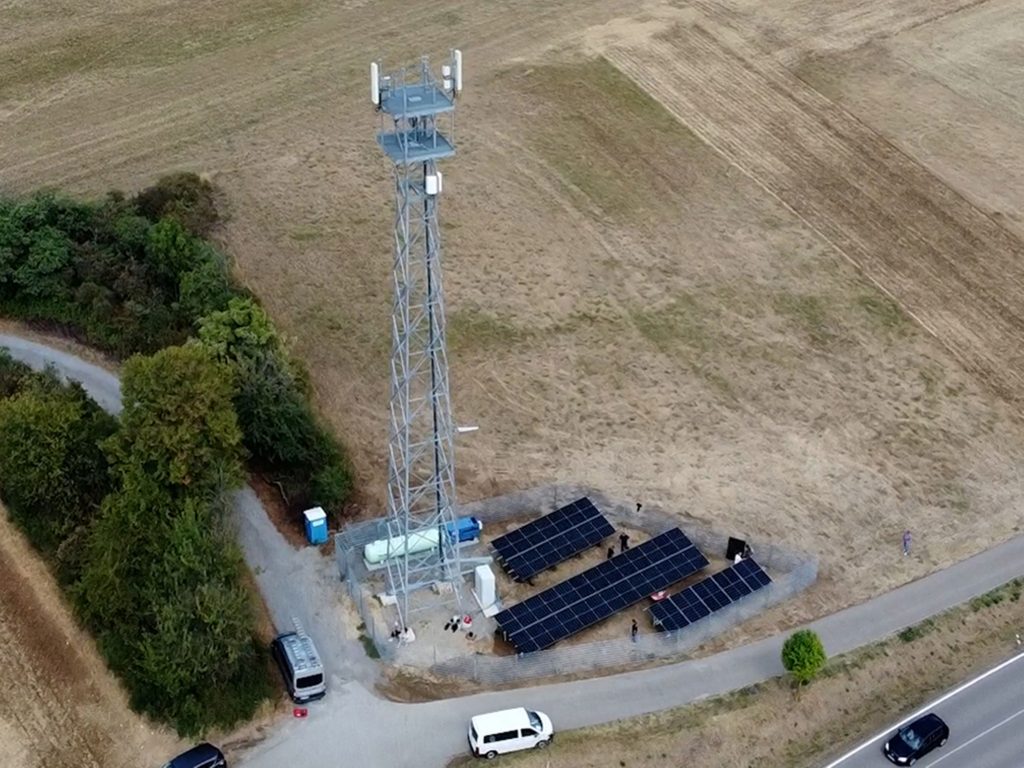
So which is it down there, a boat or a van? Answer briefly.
van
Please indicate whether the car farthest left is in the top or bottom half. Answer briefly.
bottom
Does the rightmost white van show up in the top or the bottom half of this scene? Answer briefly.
bottom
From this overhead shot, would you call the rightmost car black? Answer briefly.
Yes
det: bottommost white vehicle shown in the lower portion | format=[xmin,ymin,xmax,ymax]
[466,708,556,759]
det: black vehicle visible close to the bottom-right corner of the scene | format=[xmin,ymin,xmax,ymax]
[886,711,954,767]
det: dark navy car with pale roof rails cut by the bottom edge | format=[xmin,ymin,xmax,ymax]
[164,739,231,768]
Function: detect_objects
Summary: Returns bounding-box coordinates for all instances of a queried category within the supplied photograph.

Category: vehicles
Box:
[164,739,231,768]
[466,708,556,759]
[273,633,326,701]
[886,711,954,767]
